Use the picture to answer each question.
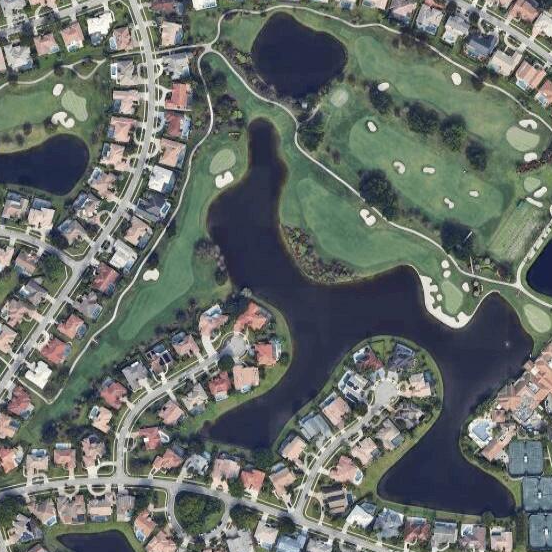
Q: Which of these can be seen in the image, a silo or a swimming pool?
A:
swimming pool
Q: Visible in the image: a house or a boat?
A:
house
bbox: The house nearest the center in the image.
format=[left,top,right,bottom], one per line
[239,305,268,331]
